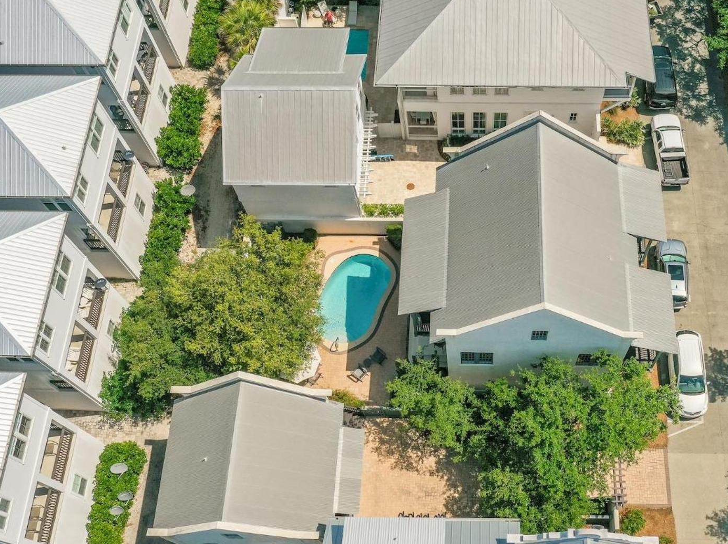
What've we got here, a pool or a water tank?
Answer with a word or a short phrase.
pool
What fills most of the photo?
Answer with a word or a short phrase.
buildings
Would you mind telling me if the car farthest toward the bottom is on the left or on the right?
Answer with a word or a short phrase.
right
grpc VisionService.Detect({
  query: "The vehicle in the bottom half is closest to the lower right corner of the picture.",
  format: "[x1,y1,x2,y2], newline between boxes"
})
[669,327,717,415]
